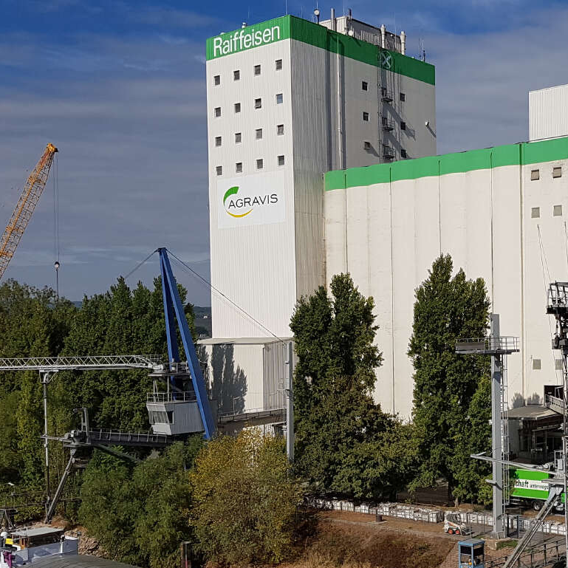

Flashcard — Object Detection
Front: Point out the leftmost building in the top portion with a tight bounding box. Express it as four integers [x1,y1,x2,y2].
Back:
[206,0,437,433]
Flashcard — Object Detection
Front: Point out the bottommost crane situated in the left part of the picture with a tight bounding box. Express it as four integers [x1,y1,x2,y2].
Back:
[0,244,289,526]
